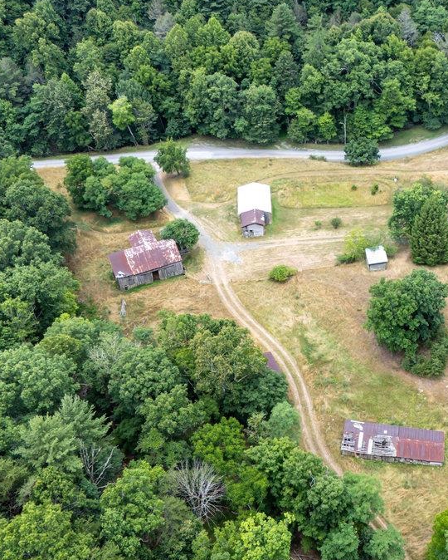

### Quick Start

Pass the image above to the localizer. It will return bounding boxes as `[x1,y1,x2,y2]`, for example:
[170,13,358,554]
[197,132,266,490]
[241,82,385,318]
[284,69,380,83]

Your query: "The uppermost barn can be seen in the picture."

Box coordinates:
[237,180,274,239]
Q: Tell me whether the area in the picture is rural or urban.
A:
rural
